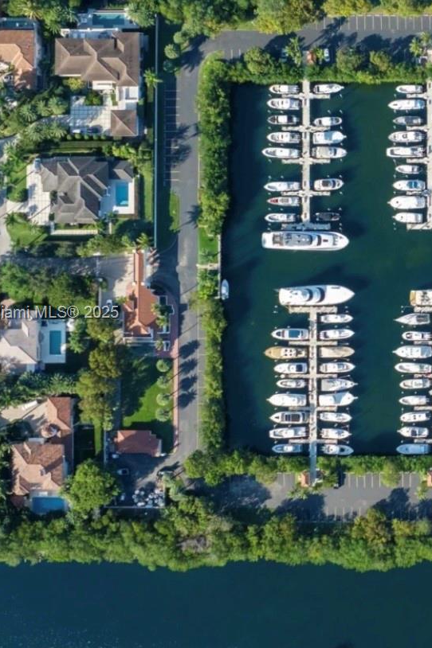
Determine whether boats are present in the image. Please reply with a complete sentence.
Yes, I can see a boat in this picture.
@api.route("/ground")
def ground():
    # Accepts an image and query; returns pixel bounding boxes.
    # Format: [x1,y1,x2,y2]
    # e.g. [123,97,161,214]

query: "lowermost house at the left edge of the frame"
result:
[9,398,75,507]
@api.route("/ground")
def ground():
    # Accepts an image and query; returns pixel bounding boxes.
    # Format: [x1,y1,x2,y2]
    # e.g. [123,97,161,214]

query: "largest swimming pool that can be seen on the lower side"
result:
[31,496,64,512]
